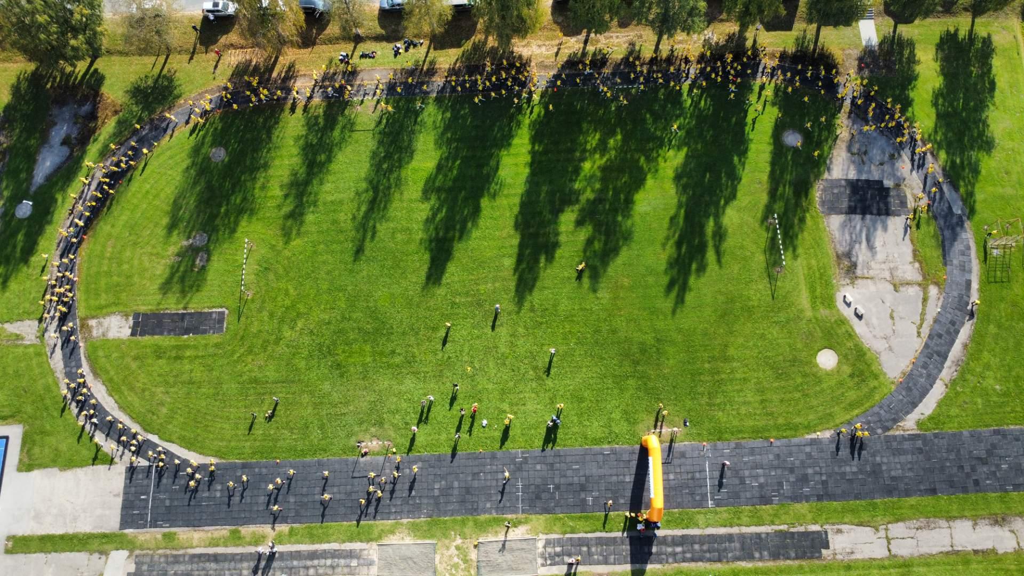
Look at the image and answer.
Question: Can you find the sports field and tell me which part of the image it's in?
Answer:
center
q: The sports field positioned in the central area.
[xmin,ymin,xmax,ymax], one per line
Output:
[78,79,944,461]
